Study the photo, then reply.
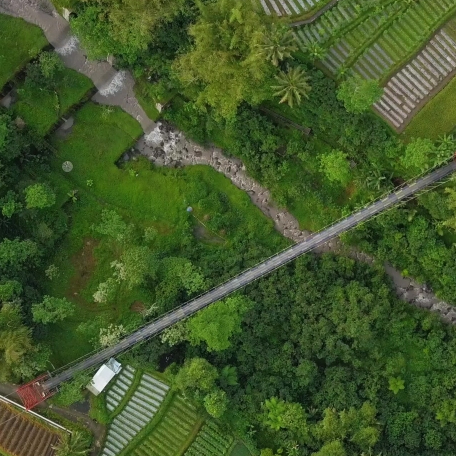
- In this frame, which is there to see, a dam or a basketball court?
dam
